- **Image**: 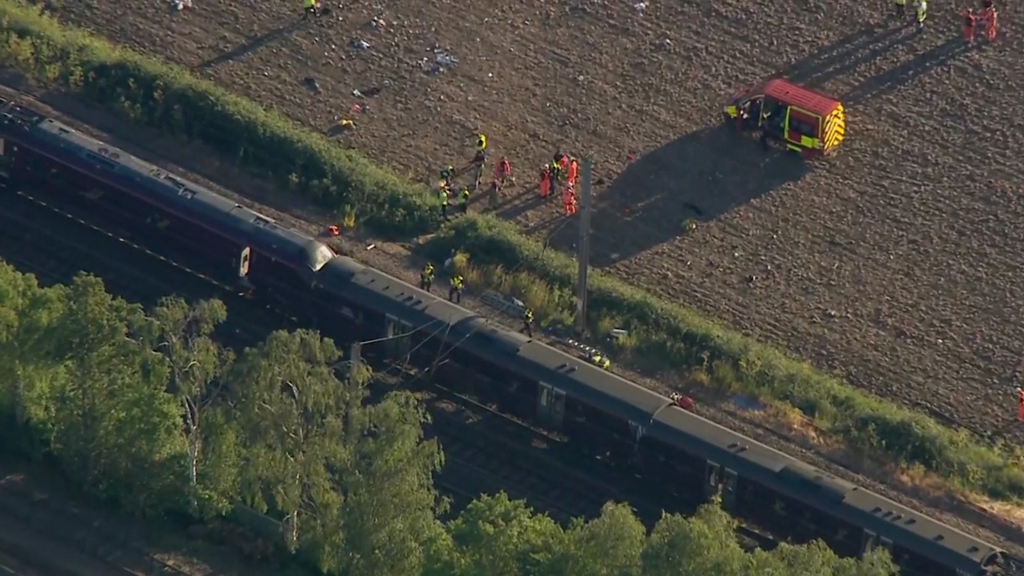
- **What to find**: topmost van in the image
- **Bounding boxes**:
[721,78,844,151]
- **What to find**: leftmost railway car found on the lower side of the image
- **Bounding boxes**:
[304,257,671,471]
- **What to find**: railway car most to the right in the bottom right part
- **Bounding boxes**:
[642,404,1004,576]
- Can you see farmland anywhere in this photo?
Yes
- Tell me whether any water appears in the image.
No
